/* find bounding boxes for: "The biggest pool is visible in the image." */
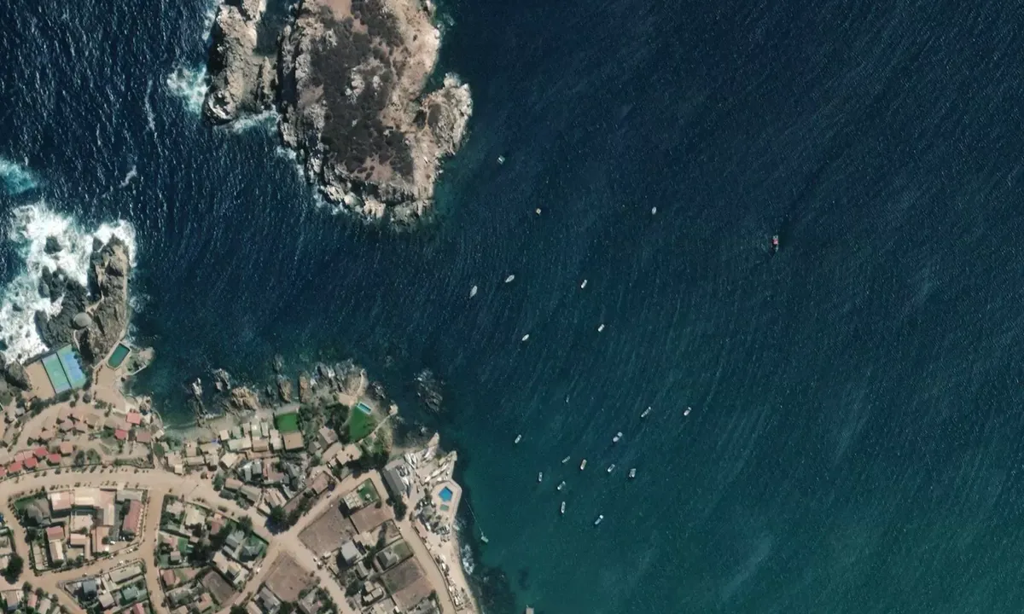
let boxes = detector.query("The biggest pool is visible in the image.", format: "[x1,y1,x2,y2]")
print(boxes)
[106,341,131,370]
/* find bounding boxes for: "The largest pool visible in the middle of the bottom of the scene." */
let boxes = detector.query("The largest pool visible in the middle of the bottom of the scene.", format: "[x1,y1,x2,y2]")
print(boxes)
[438,486,453,503]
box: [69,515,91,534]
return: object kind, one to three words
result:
house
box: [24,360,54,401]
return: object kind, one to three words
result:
sports court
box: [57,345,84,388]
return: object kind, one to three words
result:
tennis court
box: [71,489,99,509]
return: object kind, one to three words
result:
house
